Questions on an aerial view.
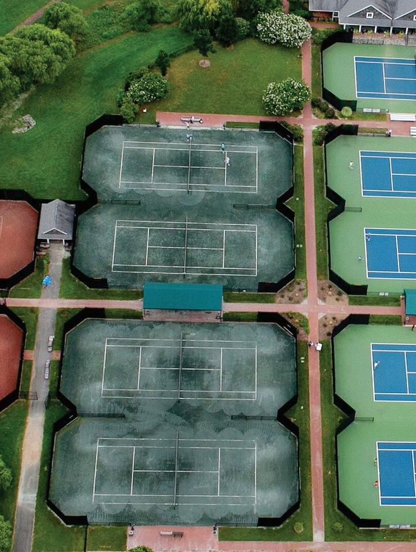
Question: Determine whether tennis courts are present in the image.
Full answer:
Yes, the image includes a tennis court.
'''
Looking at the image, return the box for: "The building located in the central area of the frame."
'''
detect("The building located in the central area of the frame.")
[144,282,222,317]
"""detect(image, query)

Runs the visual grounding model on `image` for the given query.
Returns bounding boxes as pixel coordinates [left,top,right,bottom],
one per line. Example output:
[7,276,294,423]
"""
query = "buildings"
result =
[308,0,416,35]
[403,288,416,322]
[37,197,77,249]
[144,282,222,317]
